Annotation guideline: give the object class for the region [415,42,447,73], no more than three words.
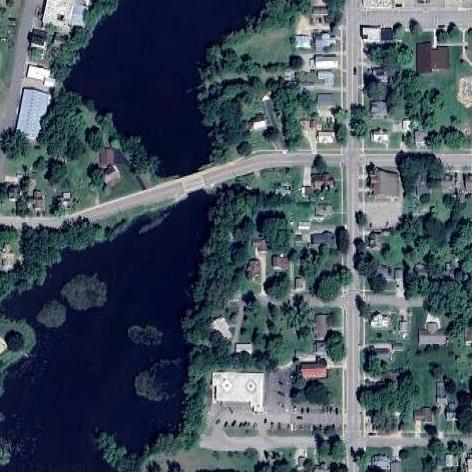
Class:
building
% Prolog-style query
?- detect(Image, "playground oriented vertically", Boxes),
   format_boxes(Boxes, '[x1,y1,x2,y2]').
[456,73,472,107]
